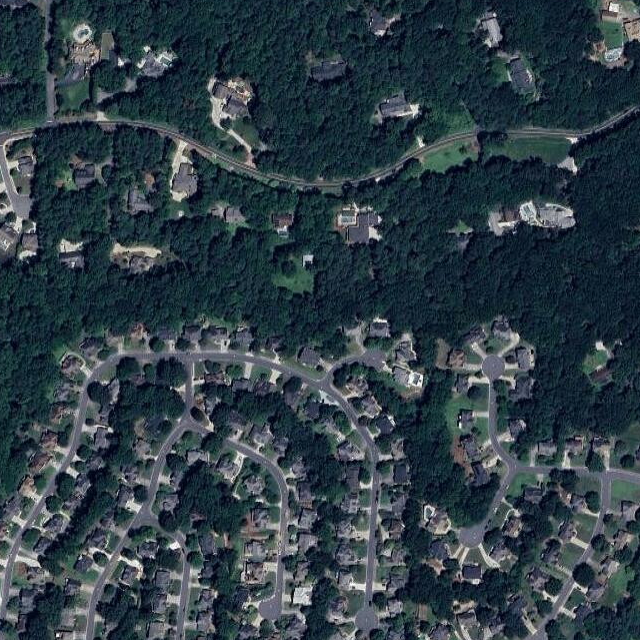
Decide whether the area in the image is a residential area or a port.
residential area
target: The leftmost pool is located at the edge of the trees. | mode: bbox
[74,23,92,42]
